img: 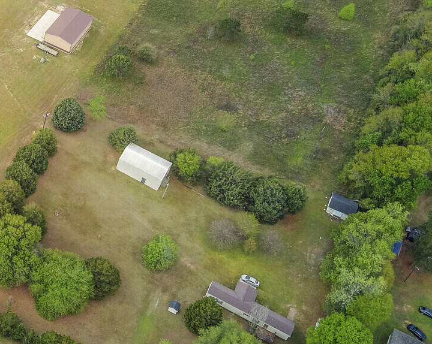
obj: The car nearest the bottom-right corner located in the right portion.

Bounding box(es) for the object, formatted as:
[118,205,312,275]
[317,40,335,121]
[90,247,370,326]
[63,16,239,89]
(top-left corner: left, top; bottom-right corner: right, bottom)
[406,324,430,343]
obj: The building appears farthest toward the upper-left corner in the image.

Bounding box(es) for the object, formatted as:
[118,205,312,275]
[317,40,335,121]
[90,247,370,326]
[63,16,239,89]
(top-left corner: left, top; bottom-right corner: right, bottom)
[43,7,92,54]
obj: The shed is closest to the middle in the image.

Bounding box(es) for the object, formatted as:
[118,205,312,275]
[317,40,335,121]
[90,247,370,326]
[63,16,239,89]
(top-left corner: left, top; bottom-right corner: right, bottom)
[116,144,170,191]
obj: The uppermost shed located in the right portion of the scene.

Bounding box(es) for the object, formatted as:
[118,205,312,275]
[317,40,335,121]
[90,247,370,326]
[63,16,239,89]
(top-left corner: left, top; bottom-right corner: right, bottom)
[325,194,360,224]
